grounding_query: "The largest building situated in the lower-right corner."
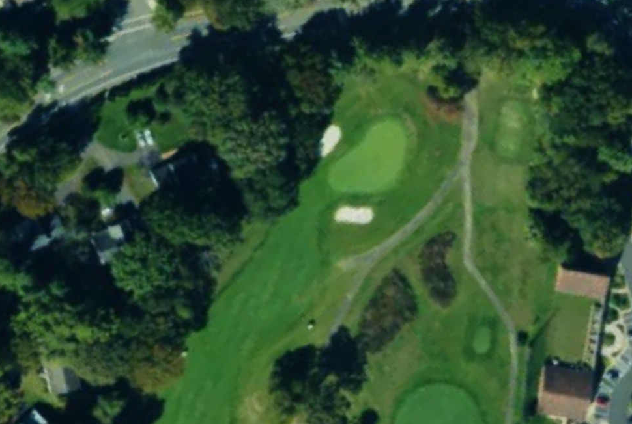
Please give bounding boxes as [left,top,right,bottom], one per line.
[536,361,596,419]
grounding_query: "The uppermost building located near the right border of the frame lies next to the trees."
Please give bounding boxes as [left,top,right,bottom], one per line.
[556,265,611,301]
